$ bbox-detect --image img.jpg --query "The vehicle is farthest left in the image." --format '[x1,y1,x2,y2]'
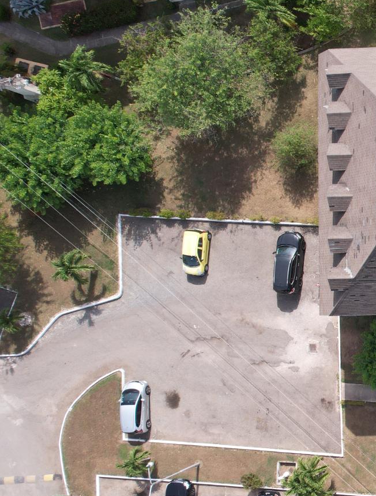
[111,380,150,436]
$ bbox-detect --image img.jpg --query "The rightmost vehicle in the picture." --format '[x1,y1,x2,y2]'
[268,231,305,295]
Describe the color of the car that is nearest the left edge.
white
